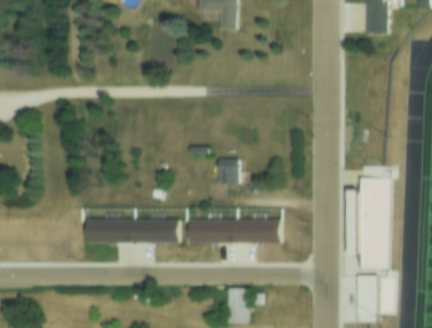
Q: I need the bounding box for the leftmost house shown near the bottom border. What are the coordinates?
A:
[228,288,254,324]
